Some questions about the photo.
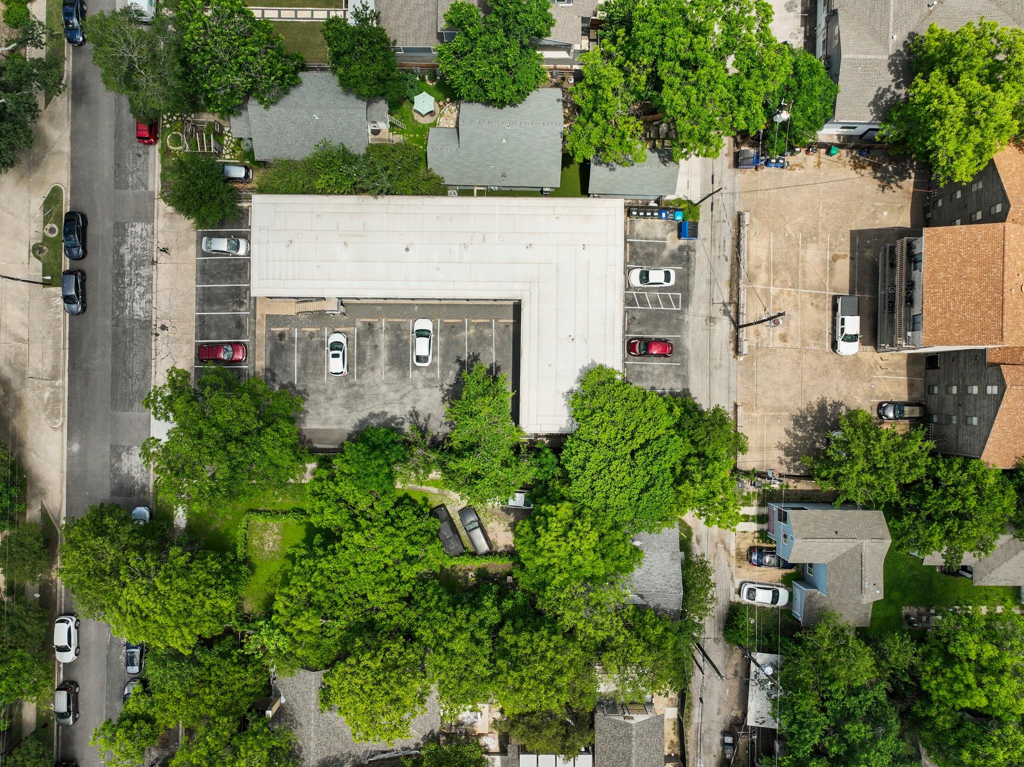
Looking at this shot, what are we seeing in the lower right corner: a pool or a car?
car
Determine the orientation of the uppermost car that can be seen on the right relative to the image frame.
from left to right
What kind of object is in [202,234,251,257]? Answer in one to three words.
car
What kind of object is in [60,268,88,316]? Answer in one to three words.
car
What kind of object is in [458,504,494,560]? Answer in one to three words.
truck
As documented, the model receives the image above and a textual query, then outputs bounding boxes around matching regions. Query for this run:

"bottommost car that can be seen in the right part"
[739,583,788,608]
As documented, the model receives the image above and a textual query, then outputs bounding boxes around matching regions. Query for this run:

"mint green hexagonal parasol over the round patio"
[415,94,435,117]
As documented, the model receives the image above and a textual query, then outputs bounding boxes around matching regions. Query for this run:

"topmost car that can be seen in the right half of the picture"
[626,266,674,289]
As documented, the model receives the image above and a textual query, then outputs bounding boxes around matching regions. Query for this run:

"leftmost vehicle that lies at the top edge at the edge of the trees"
[61,0,88,46]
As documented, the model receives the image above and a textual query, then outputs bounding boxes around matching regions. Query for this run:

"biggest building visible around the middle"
[251,195,625,434]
